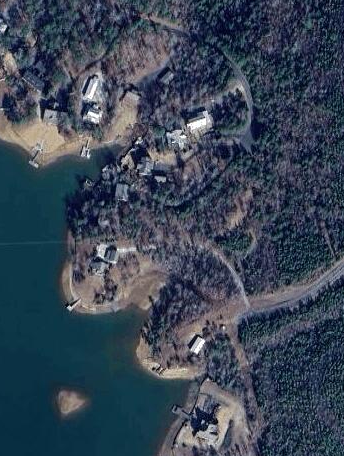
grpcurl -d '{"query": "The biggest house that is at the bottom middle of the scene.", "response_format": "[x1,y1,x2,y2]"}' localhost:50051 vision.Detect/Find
[194,415,221,441]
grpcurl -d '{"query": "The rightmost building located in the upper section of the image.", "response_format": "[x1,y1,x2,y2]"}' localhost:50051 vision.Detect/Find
[186,110,212,131]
